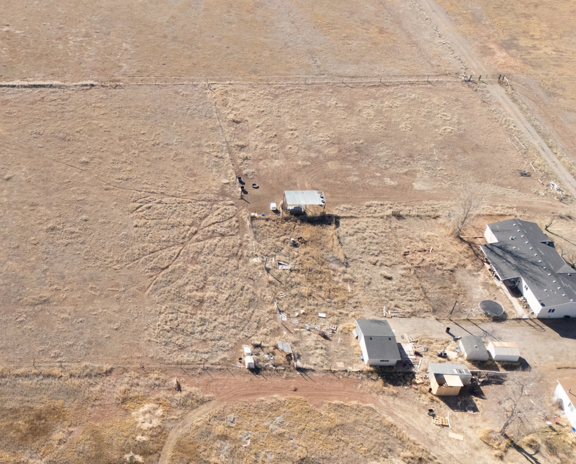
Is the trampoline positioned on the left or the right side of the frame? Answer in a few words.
right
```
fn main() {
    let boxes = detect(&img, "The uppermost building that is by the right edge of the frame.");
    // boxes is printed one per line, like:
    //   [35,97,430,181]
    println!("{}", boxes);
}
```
[478,217,576,317]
